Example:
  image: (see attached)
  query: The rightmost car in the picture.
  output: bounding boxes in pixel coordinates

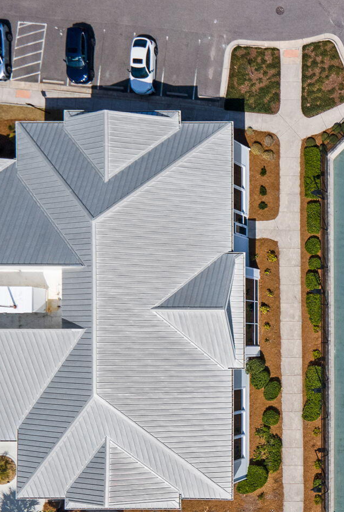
[125,37,156,95]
